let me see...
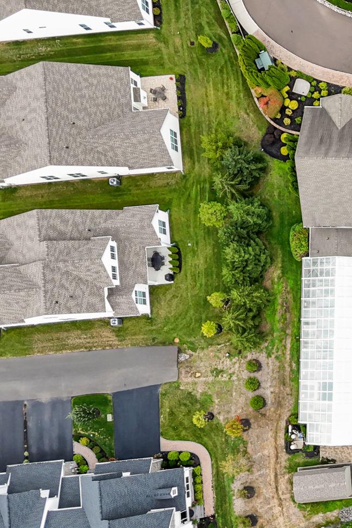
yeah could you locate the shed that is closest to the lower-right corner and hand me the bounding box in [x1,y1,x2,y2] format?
[294,462,352,503]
